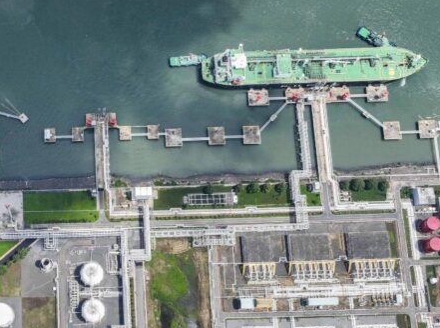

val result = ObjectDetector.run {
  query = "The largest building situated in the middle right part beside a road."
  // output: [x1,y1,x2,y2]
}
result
[413,187,437,206]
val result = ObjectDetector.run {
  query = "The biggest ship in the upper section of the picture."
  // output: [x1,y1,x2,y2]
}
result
[201,44,429,88]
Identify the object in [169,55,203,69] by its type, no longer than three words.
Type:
boat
